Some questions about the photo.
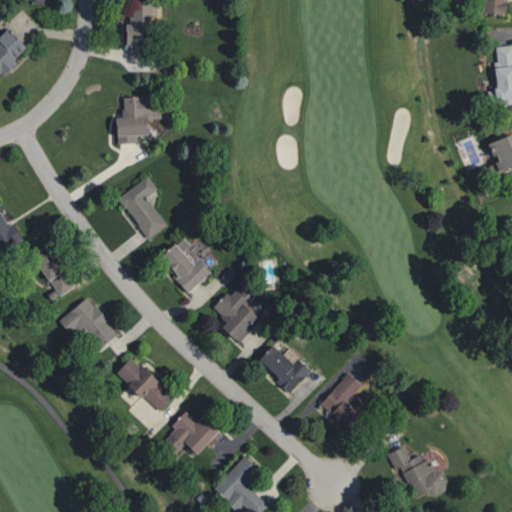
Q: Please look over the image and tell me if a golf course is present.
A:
Yes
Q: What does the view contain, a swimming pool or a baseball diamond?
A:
swimming pool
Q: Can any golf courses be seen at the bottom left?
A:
Yes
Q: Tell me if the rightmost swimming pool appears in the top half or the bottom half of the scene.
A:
top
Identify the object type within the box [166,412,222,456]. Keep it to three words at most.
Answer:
house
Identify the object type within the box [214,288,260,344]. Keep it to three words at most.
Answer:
house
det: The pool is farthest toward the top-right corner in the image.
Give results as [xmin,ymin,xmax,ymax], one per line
[456,136,486,166]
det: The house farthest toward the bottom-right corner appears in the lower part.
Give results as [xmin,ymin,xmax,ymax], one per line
[389,447,447,501]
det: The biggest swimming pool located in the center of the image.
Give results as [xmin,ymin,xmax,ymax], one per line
[259,258,279,290]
